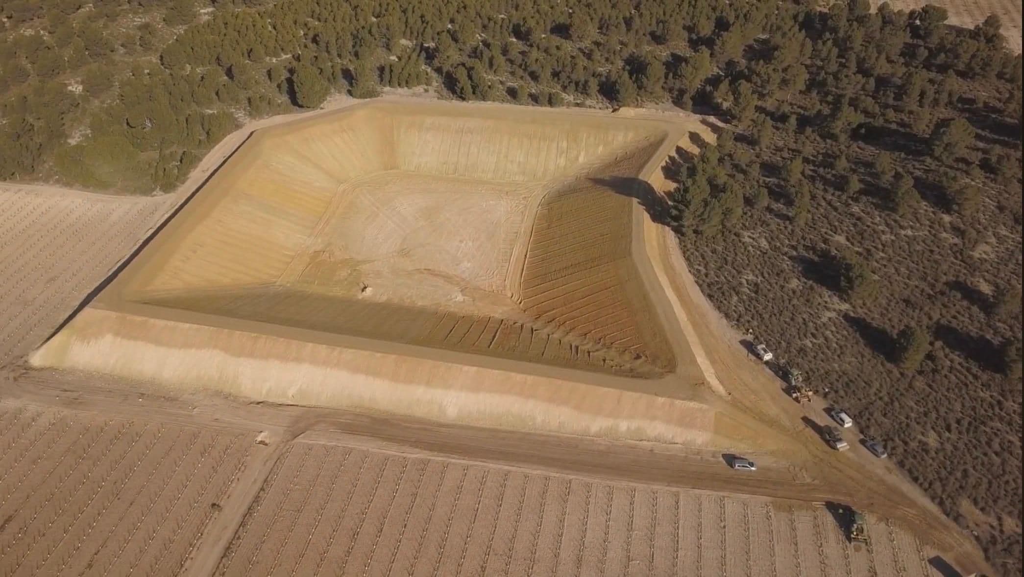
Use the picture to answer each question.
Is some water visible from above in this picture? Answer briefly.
Yes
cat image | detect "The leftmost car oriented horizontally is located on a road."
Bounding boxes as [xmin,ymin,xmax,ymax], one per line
[732,461,757,473]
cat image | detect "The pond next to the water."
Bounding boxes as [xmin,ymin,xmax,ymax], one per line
[37,100,746,443]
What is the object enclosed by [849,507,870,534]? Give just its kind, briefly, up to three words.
work vehicle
